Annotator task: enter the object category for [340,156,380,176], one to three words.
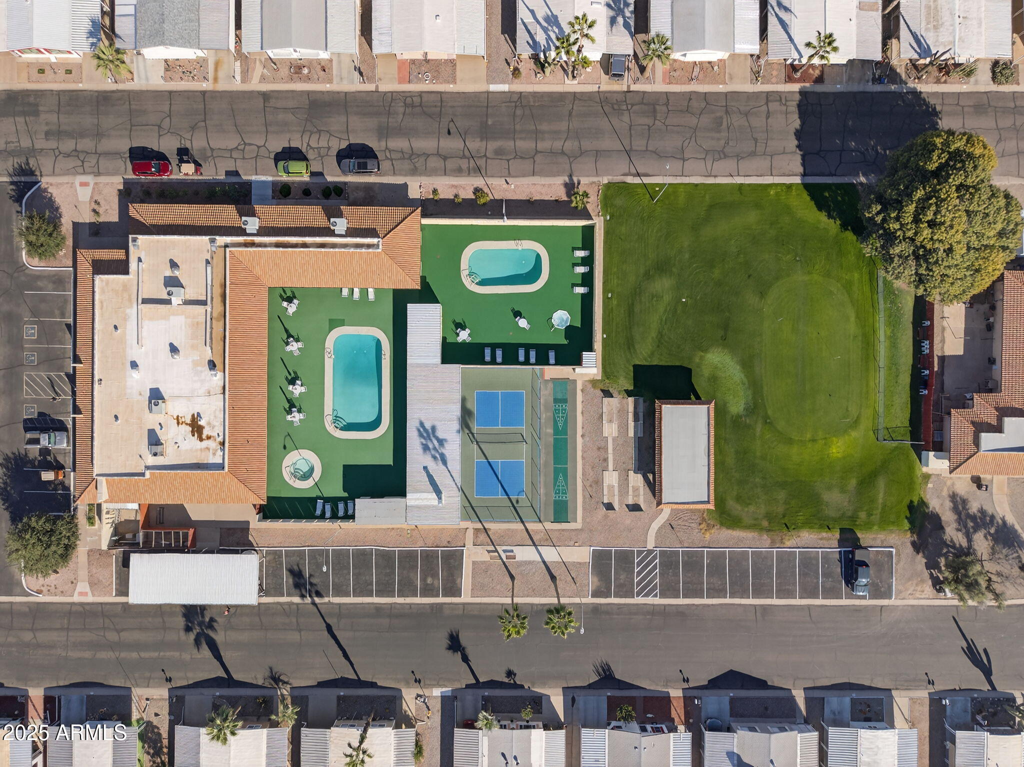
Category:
car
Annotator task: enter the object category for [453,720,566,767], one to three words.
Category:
house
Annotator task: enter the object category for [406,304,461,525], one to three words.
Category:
building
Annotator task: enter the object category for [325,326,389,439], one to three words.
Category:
swimming pool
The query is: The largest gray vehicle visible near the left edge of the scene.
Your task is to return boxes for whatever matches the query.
[20,430,67,450]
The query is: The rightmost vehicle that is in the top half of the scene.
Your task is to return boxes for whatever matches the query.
[610,52,627,79]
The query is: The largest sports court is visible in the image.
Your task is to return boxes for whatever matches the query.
[461,368,540,523]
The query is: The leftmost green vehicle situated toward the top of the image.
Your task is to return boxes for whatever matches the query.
[276,158,309,176]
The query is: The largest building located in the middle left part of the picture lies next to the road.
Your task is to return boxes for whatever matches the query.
[72,203,421,506]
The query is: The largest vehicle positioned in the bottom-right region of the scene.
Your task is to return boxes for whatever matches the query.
[853,549,877,597]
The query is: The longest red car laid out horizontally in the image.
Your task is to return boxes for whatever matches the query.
[129,158,170,177]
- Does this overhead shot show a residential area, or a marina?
residential area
